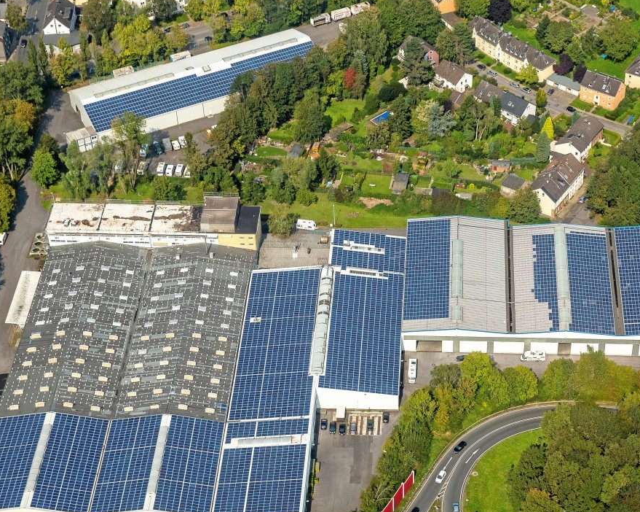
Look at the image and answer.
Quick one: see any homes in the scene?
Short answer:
Yes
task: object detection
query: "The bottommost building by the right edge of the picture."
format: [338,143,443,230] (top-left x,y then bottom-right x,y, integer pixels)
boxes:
[402,216,640,355]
